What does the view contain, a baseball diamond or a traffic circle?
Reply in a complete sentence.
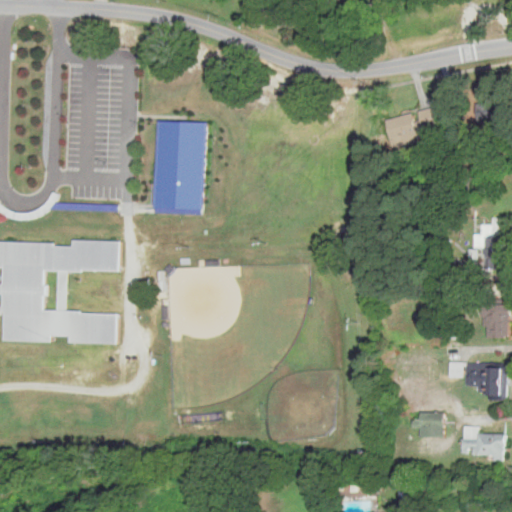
The one in the frame is a baseball diamond.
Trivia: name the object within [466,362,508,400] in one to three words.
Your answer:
house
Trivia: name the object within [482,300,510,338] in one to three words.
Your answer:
house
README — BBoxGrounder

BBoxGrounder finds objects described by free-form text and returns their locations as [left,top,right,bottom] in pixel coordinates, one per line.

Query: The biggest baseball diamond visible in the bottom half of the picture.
[170,264,312,409]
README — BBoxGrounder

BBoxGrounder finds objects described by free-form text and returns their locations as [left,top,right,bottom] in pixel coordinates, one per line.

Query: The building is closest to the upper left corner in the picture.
[154,121,210,214]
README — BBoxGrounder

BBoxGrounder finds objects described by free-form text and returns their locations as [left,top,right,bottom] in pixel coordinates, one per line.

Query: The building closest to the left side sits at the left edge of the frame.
[0,240,122,345]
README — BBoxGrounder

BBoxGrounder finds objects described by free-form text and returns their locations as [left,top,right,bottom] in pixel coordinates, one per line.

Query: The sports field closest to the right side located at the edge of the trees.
[267,372,338,441]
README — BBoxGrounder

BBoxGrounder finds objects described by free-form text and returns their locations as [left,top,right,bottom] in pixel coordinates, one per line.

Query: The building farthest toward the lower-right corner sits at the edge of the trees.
[461,426,508,462]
